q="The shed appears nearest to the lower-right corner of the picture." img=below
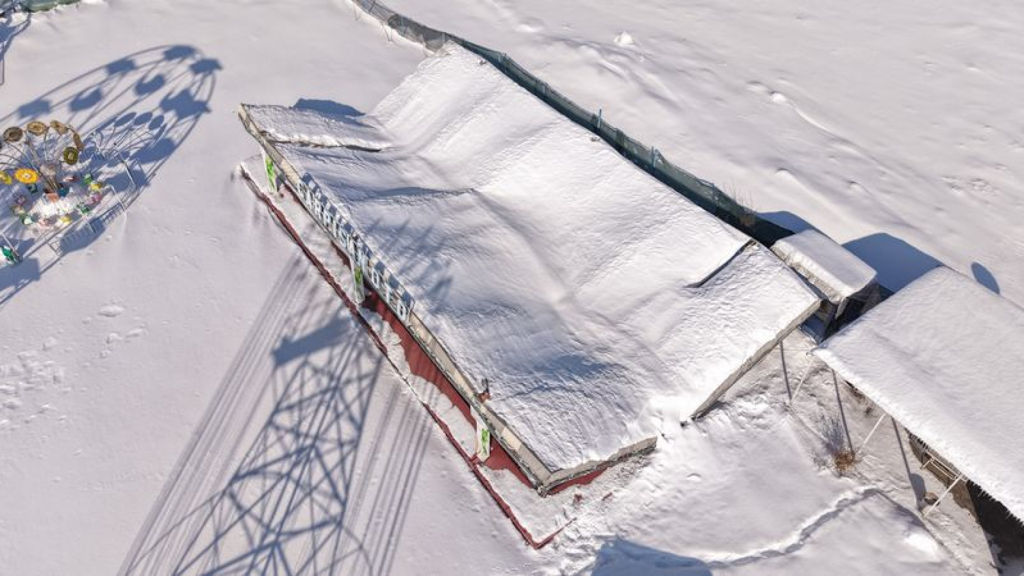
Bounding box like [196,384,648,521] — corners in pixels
[790,270,1024,541]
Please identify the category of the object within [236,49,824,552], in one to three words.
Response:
building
